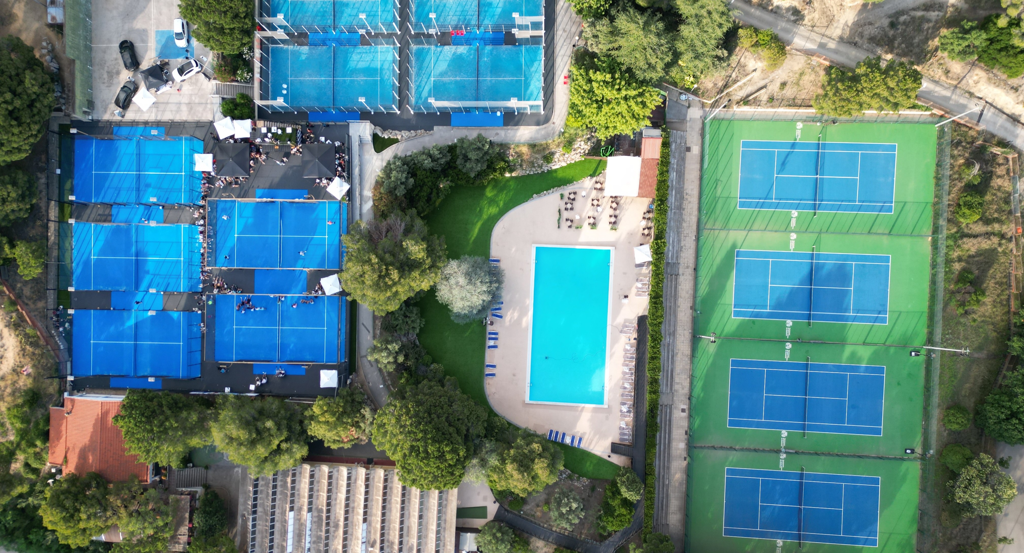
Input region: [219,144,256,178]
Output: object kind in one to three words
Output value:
tent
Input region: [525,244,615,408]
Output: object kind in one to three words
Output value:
swimming pool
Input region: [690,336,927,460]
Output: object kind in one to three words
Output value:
tennis court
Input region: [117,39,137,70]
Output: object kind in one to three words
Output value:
car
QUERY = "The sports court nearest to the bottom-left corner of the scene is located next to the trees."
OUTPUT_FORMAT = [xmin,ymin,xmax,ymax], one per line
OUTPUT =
[54,310,202,382]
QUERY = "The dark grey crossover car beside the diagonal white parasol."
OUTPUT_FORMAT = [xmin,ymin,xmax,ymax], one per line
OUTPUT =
[113,80,134,109]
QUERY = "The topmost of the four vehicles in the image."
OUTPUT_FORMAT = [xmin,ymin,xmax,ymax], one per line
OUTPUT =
[171,16,188,47]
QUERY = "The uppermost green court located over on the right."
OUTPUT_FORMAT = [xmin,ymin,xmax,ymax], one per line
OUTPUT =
[700,120,937,235]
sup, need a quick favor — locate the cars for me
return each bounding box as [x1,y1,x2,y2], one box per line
[113,80,134,109]
[117,39,137,70]
[171,16,188,47]
[171,59,199,81]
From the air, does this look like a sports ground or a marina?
sports ground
